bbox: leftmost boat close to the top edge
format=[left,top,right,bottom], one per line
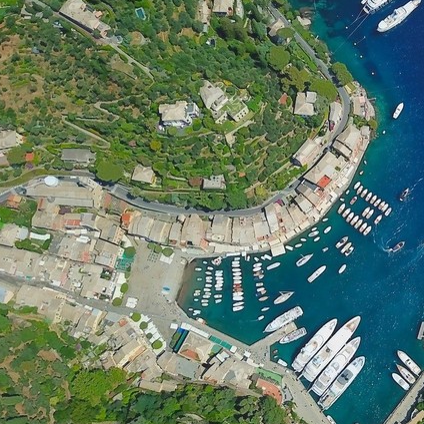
[341,0,387,41]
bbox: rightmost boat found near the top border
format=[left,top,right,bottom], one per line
[374,0,421,34]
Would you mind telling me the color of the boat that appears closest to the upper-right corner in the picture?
white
